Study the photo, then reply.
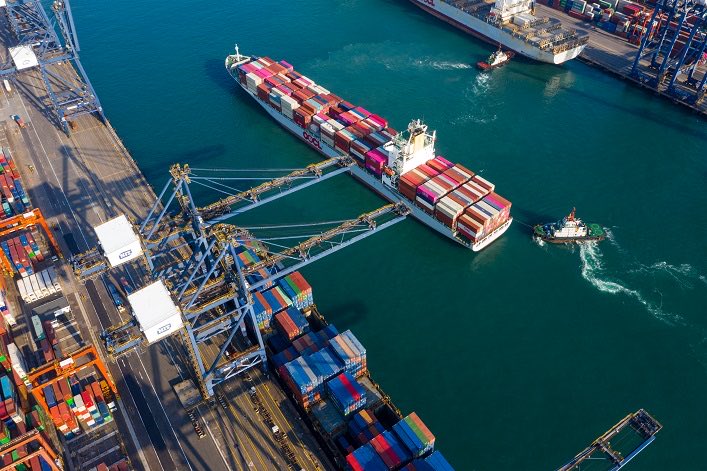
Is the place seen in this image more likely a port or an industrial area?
port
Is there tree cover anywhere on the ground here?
No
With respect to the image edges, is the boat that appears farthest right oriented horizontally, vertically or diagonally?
horizontally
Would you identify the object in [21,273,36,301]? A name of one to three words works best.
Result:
vehicle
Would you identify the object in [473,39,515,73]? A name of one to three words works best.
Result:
boat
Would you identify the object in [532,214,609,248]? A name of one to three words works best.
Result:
boat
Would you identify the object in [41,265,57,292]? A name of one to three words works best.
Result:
vehicle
